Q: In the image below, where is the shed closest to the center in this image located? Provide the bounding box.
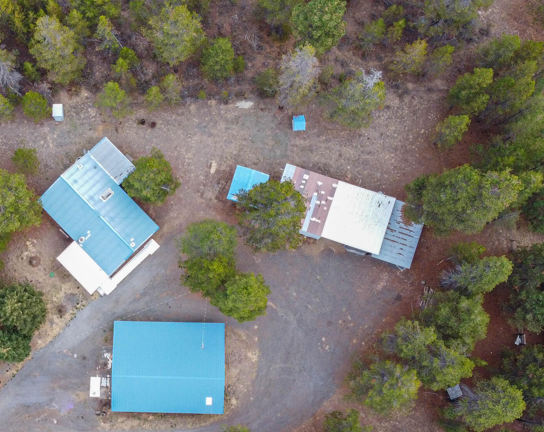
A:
[228,165,270,206]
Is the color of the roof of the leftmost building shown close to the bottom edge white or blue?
blue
